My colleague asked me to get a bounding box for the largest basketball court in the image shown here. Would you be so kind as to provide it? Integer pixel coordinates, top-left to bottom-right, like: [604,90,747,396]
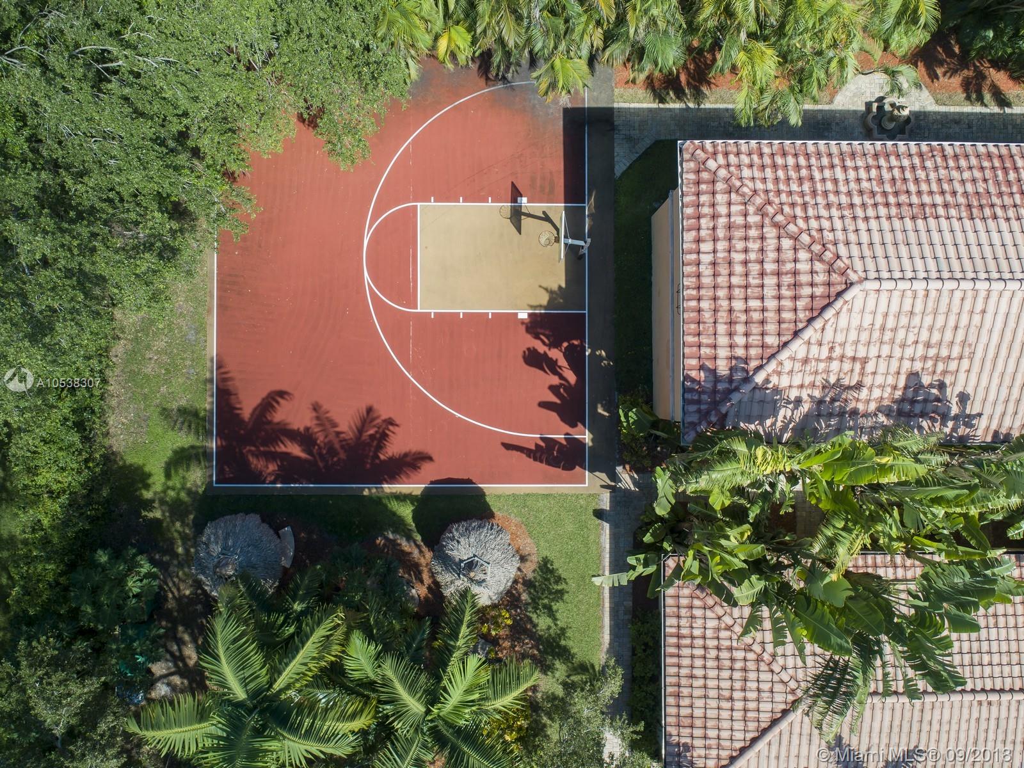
[206,53,615,494]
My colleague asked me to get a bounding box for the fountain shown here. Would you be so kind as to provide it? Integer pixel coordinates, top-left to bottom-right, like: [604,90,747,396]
[855,89,920,140]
